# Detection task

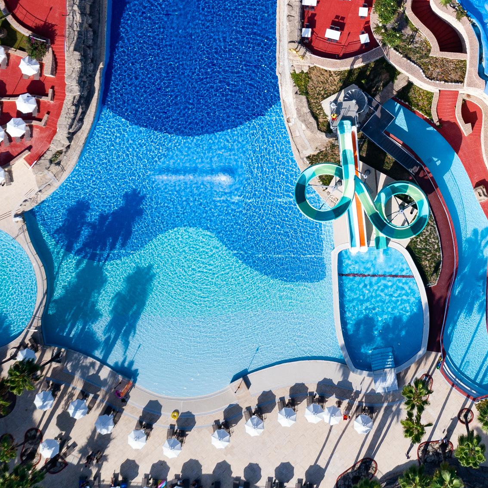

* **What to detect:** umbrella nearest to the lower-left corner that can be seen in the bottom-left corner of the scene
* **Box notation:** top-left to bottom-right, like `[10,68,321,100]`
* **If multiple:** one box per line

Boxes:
[39,437,60,458]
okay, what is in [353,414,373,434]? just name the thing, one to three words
umbrella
